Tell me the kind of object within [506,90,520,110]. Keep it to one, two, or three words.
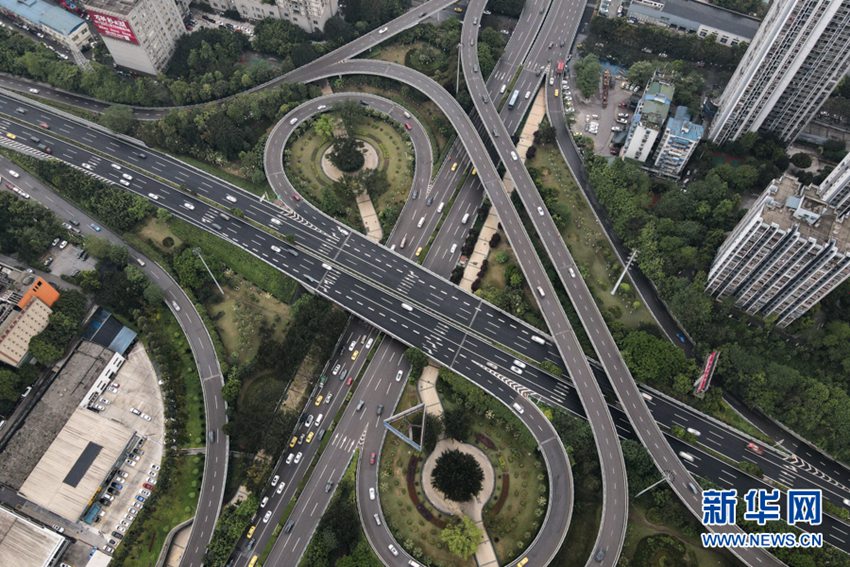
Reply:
vehicle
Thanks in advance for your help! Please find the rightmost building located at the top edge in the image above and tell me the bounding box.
[708,0,850,154]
